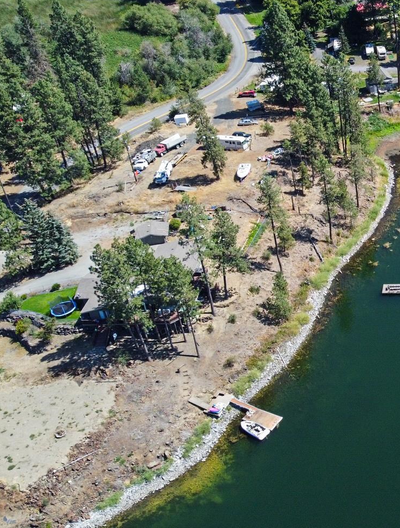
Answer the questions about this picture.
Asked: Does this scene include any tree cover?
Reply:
Yes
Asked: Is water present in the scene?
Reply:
Yes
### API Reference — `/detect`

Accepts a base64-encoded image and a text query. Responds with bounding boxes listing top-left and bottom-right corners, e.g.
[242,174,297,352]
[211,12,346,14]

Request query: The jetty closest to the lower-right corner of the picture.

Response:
[242,409,284,432]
